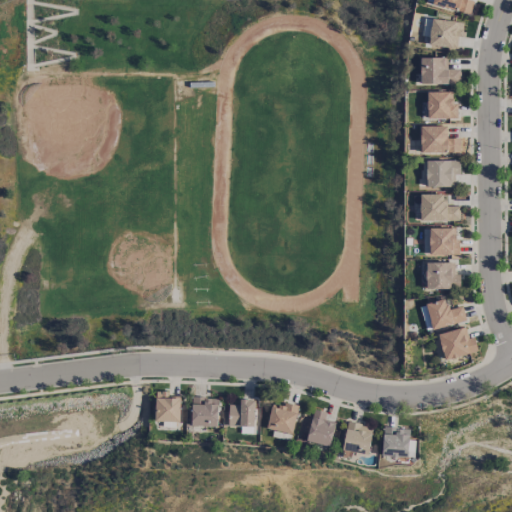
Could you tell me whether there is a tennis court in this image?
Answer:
No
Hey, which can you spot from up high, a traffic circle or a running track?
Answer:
running track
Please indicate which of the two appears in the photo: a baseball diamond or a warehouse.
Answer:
baseball diamond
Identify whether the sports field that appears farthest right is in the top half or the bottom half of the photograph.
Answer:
top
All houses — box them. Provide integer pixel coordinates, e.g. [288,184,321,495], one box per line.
[412,125,450,152]
[384,427,416,458]
[428,160,462,187]
[268,401,300,440]
[428,262,462,289]
[422,57,462,84]
[438,330,481,362]
[192,398,220,432]
[344,420,374,453]
[156,392,182,429]
[425,18,466,48]
[230,400,257,434]
[425,0,475,17]
[424,228,460,255]
[422,300,471,333]
[422,194,462,221]
[306,403,338,447]
[428,92,460,118]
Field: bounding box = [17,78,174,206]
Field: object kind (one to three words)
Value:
baseball field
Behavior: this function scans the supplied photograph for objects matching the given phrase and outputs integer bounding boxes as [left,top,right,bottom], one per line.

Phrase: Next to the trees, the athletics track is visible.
[214,14,368,312]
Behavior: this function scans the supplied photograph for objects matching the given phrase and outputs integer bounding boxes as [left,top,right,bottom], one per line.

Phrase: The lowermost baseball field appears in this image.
[40,206,175,316]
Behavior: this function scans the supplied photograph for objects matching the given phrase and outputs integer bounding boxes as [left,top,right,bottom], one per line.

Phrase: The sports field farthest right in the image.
[230,32,350,296]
